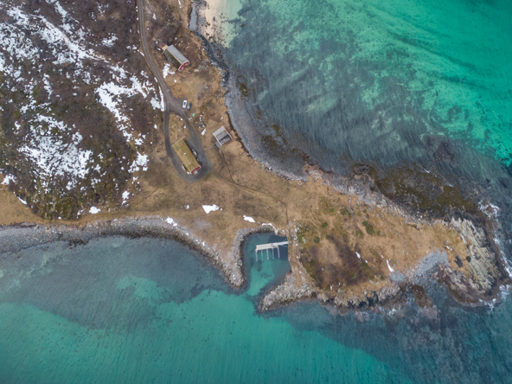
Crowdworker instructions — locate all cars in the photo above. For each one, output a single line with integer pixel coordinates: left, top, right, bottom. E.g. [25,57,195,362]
[187,102,193,110]
[182,100,188,108]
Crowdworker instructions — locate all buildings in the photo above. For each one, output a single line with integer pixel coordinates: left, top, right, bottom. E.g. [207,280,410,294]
[165,46,189,70]
[173,139,202,173]
[214,127,231,145]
